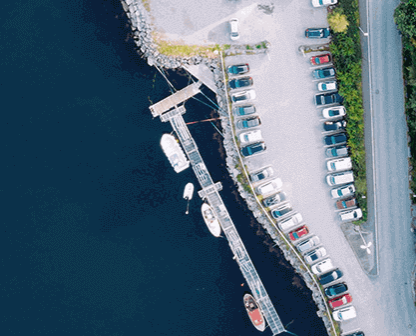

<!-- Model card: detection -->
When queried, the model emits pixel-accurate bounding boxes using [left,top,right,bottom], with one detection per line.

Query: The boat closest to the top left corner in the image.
[164,135,190,176]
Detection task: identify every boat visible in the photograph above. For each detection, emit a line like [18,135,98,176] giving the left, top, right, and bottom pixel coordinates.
[241,292,264,334]
[164,135,190,176]
[184,184,194,205]
[200,202,220,237]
